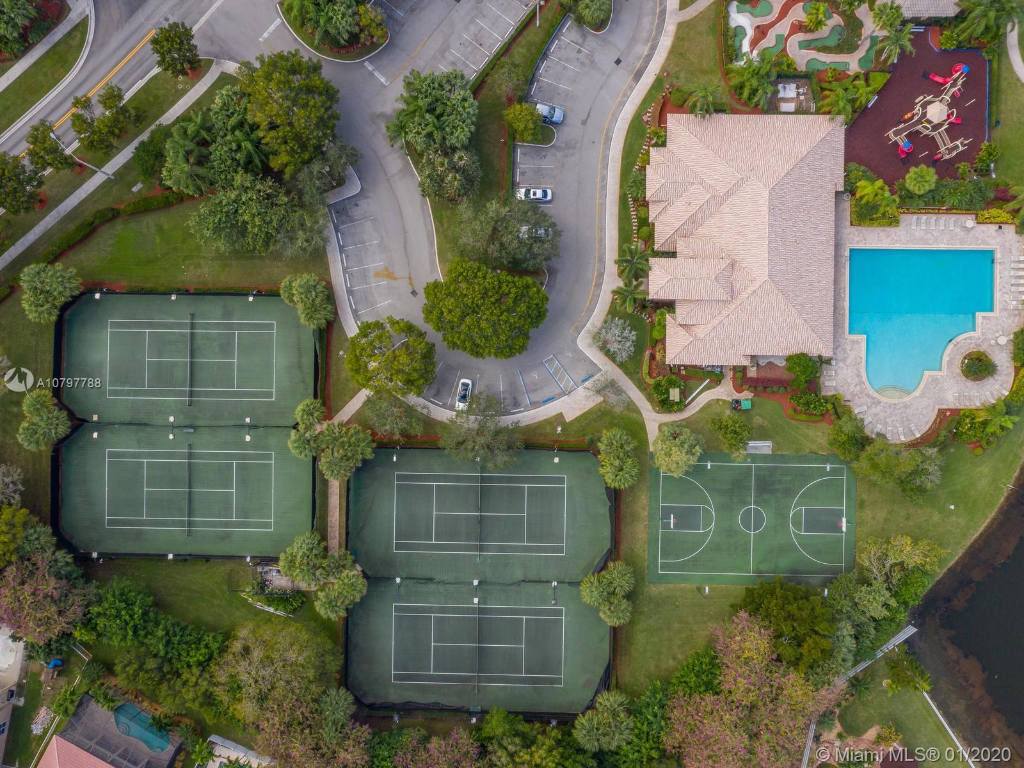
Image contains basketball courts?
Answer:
Yes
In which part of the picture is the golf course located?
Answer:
top right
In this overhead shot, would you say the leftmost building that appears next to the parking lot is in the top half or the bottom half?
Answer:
top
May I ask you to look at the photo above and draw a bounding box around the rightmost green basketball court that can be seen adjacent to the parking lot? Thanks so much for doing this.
[647,454,856,585]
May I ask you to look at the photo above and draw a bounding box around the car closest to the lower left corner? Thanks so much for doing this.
[455,374,475,410]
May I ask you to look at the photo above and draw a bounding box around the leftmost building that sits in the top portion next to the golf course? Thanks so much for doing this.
[643,113,845,366]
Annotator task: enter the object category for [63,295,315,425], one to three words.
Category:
tennis court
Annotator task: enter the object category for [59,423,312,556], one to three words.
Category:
tennis court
